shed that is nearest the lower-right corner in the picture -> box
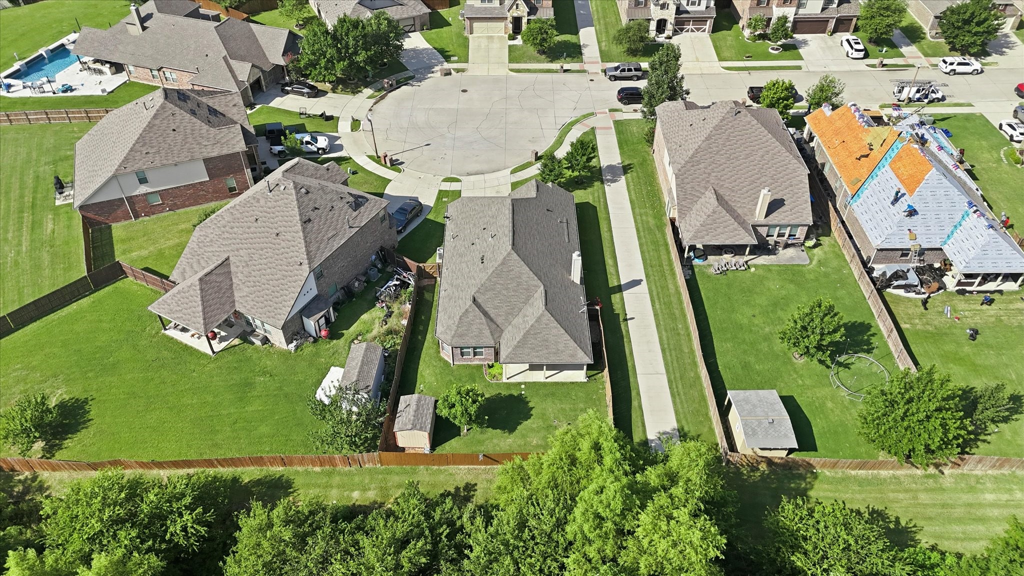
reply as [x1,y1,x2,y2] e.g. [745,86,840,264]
[726,390,798,455]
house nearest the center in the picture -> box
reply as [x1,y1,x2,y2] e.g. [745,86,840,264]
[434,175,593,382]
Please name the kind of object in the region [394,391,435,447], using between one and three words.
shed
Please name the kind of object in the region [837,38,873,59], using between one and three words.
car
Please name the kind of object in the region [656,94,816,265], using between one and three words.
house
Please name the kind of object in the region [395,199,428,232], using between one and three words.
car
